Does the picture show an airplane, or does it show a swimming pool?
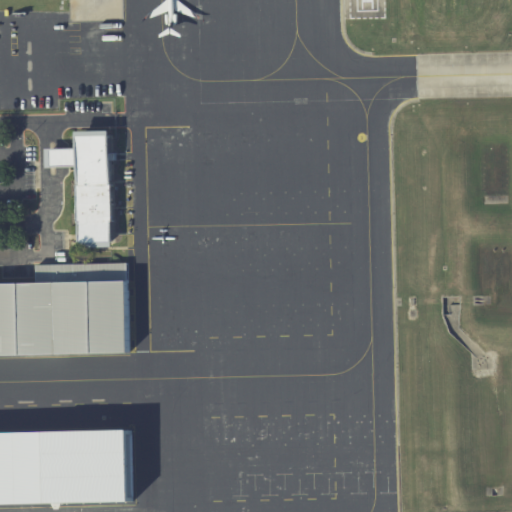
airplane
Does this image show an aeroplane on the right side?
No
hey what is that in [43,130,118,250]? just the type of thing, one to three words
building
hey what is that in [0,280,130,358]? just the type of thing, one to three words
hangar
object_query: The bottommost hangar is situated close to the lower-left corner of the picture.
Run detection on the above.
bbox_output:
[0,429,134,510]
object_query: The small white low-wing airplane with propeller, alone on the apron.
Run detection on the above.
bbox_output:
[152,228,176,244]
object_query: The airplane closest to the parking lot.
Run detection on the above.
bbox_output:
[141,0,202,38]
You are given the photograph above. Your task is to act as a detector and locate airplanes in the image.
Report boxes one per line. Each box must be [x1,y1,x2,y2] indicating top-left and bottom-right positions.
[141,0,202,38]
[152,228,176,244]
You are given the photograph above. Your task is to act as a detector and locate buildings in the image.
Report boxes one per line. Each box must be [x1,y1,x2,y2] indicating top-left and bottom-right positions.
[43,130,118,250]
[0,429,134,510]
[0,280,130,358]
